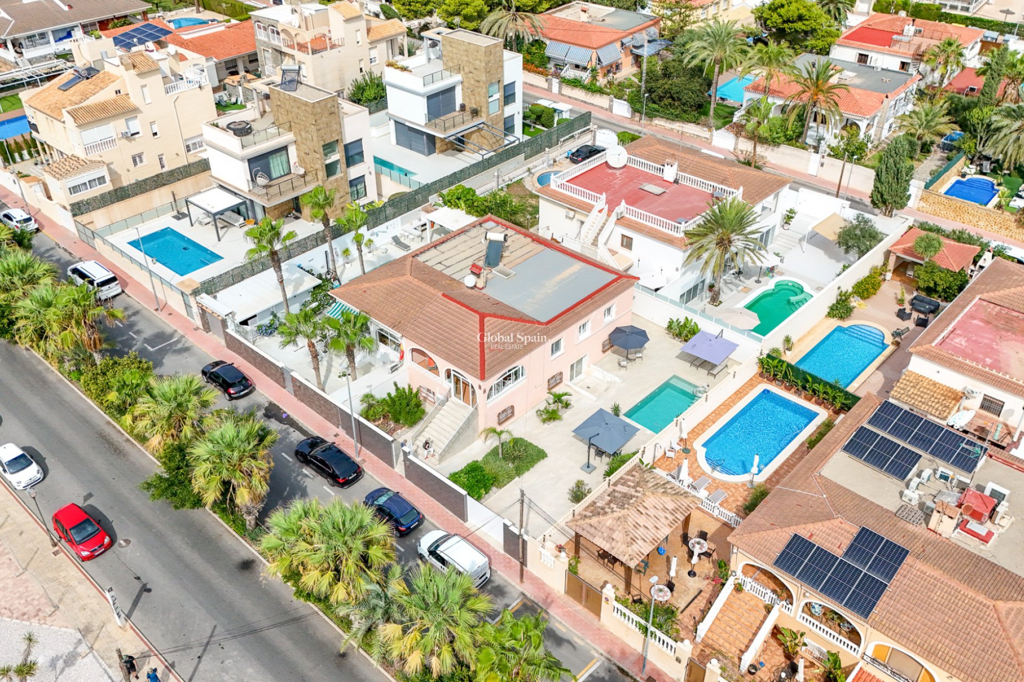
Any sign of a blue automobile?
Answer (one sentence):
Yes, a blue automobile is visible in the scene.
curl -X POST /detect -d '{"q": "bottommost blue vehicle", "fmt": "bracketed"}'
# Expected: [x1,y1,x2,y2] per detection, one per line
[360,485,426,537]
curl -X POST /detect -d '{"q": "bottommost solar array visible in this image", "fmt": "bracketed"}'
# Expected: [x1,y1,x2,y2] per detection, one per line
[775,523,914,619]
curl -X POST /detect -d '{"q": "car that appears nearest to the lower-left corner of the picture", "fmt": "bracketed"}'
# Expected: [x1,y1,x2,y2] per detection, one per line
[46,498,107,557]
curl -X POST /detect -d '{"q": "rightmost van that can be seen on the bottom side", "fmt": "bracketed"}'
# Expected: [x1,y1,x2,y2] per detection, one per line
[413,527,493,593]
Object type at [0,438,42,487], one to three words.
car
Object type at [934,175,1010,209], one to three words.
swimming pool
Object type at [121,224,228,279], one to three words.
swimming pool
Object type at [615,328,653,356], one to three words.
umbrella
